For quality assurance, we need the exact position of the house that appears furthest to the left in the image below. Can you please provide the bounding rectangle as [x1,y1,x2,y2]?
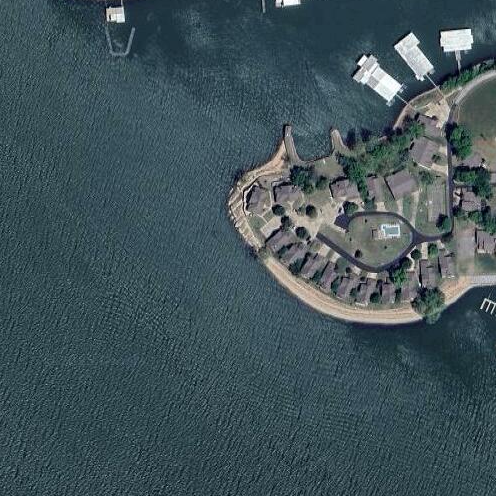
[245,186,271,216]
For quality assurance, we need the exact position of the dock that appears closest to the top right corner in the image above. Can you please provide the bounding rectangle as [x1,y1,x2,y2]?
[440,30,473,73]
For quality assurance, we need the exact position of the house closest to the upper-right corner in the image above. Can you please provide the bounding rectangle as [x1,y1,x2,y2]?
[421,113,443,139]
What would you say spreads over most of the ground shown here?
water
